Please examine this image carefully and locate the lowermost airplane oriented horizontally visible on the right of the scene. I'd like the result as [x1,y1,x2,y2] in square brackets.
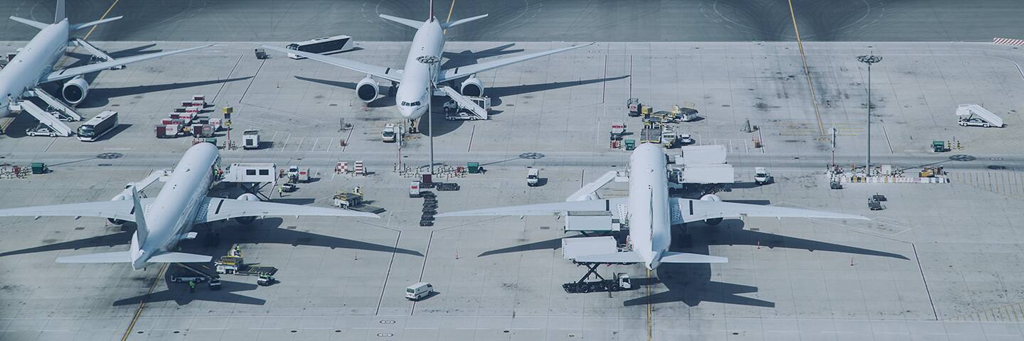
[433,144,867,272]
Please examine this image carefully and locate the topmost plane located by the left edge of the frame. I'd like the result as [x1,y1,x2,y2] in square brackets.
[0,0,214,134]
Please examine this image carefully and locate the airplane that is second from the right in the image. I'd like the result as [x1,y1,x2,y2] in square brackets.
[261,0,597,133]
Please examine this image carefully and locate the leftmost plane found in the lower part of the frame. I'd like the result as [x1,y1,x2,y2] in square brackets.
[0,146,375,273]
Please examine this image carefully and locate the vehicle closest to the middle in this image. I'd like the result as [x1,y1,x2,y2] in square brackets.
[527,167,540,186]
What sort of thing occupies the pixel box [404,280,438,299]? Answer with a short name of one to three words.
vehicle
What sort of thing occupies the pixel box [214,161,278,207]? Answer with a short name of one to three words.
truck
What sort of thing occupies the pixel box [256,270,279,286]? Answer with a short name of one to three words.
work vehicle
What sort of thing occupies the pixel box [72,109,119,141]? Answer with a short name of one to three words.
bus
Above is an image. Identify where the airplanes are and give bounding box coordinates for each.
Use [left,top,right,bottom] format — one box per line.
[433,144,867,272]
[0,0,214,134]
[0,146,375,273]
[261,0,597,133]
